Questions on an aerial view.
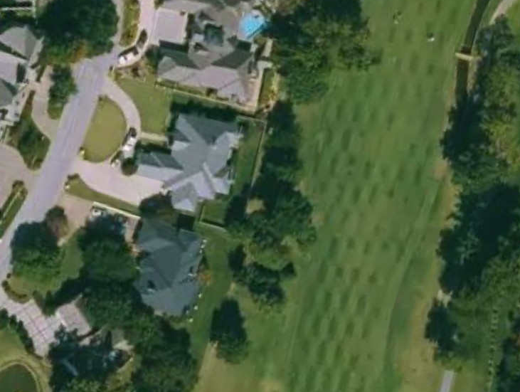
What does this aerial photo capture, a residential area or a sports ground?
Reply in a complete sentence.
It's a residential area.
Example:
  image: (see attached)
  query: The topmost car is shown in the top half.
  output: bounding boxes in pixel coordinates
[136,27,149,47]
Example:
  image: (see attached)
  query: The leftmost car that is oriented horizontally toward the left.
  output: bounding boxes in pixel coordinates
[89,207,109,219]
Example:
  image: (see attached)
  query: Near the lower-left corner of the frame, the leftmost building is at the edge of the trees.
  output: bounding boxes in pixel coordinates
[57,302,92,341]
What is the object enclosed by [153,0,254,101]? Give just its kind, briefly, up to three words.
house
